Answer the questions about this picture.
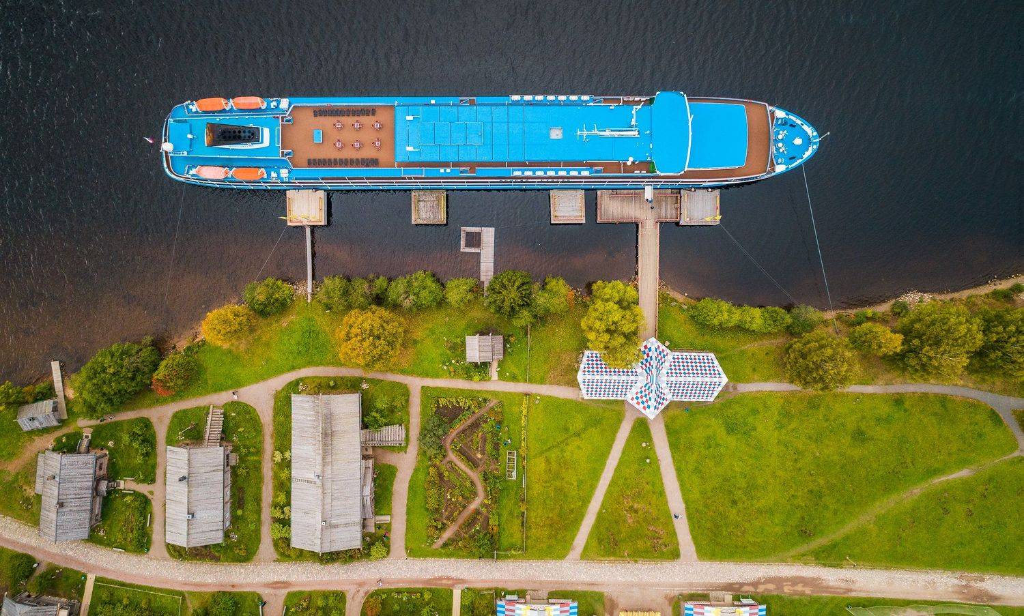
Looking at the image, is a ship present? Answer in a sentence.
Yes, the frame does contain a ship.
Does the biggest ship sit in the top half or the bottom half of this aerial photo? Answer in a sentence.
The top half of the photo is where the biggest ship is.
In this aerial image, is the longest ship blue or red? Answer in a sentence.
From above, the longest ship appears blue.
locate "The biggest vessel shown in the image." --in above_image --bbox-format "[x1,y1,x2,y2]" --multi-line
[148,92,826,190]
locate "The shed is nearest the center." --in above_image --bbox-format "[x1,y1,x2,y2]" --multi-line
[466,332,503,368]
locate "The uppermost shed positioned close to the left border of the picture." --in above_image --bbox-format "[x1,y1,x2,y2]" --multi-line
[14,399,65,432]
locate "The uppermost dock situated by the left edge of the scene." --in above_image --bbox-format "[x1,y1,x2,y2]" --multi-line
[51,361,68,419]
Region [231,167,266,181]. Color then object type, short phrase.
orange boat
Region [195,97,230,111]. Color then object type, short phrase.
orange boat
